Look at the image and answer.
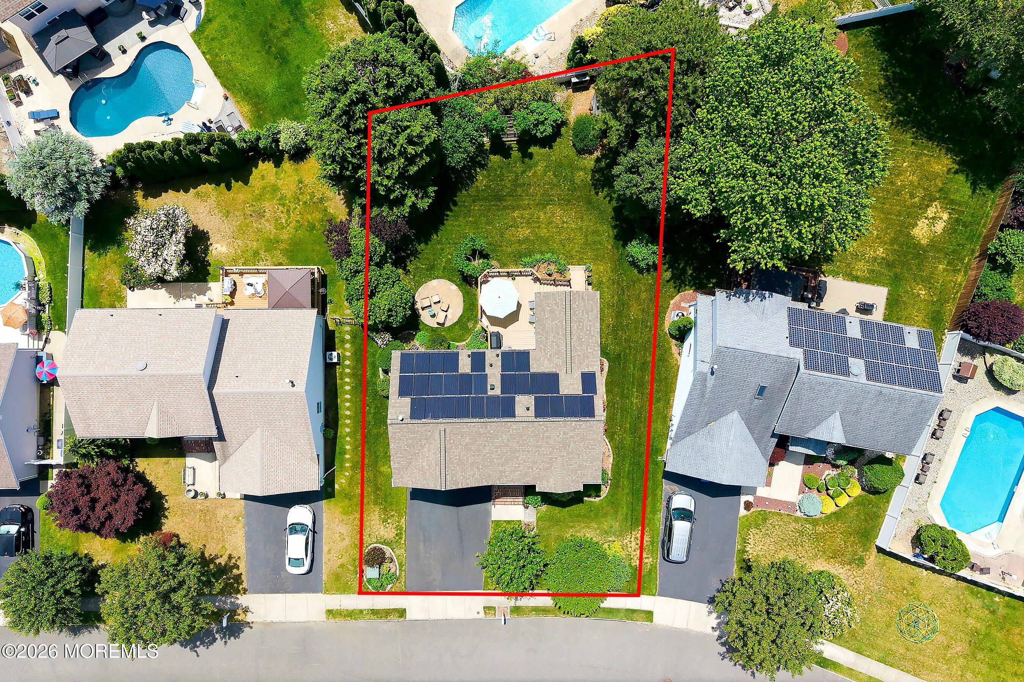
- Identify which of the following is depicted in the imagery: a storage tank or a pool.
pool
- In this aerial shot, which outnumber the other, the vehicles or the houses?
houses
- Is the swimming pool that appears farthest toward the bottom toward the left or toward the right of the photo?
right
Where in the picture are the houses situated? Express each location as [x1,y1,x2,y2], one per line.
[655,287,944,486]
[0,0,113,35]
[388,290,604,493]
[56,307,336,496]
[0,342,39,490]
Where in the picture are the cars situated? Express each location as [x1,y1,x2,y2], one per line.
[662,491,696,562]
[283,503,316,574]
[0,493,34,565]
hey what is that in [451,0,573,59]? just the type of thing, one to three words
swimming pool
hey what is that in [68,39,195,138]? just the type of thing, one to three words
swimming pool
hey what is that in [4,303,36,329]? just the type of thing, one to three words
umbrella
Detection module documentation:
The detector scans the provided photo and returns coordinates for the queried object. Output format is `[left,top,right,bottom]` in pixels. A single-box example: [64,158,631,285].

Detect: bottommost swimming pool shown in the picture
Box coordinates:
[939,405,1024,542]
